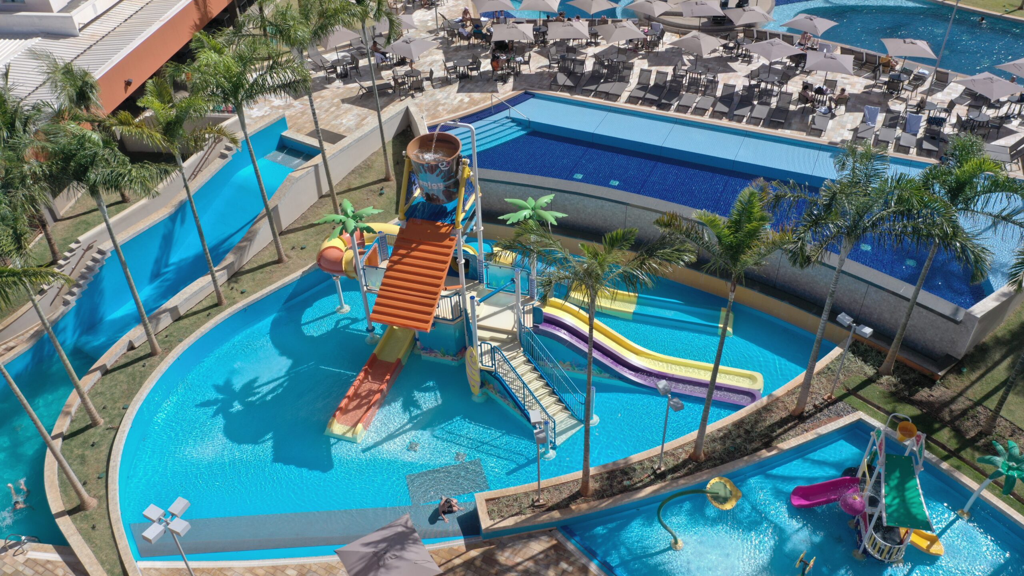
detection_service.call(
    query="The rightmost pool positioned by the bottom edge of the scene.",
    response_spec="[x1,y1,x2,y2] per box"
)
[557,429,1024,576]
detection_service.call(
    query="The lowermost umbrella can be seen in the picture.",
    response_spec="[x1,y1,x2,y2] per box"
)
[328,511,463,576]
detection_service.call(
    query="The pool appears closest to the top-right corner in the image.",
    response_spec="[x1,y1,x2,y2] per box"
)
[771,0,1024,85]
